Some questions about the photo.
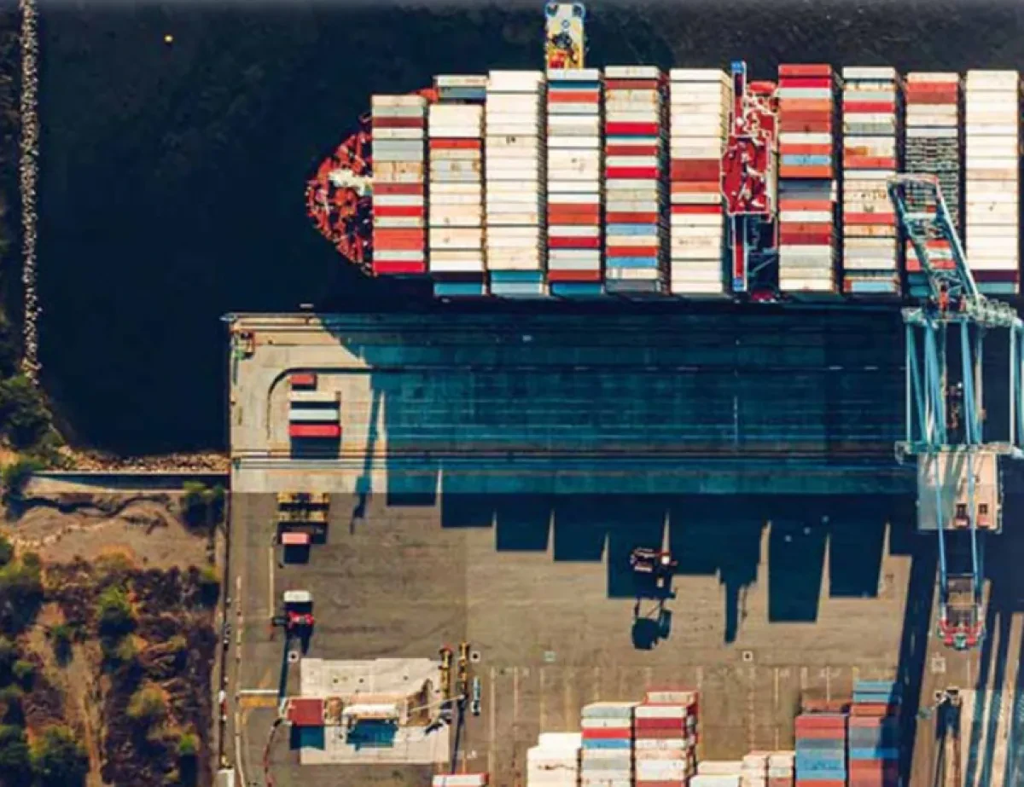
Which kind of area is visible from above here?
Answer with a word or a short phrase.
port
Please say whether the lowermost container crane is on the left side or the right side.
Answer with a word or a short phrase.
right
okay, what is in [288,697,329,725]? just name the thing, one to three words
shed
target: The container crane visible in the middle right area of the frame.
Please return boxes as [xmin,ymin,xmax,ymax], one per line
[888,167,1024,651]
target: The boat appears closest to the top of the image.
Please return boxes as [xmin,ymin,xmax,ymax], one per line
[545,1,587,74]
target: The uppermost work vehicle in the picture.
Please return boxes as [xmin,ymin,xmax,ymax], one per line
[633,548,679,572]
